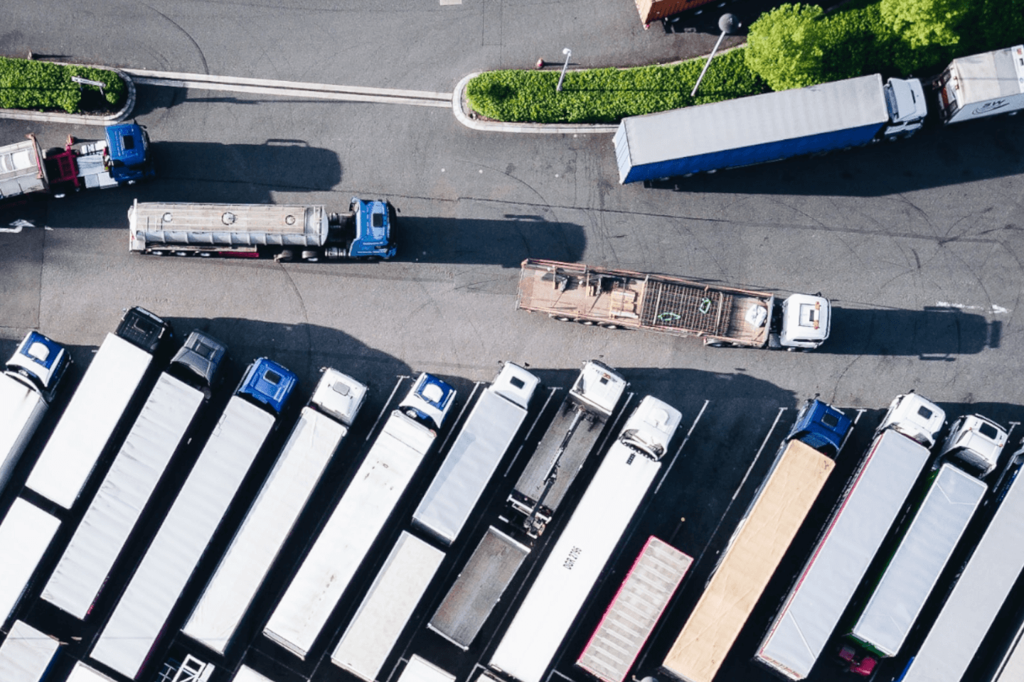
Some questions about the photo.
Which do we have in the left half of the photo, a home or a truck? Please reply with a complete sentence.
You can see a truck in the left half of the photo.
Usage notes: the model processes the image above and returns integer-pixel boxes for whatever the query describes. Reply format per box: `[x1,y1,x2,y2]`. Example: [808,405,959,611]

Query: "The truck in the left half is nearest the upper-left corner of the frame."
[0,120,160,198]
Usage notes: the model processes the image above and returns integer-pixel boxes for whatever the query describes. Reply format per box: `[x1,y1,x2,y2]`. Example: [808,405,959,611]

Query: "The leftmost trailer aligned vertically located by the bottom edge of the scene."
[0,499,73,651]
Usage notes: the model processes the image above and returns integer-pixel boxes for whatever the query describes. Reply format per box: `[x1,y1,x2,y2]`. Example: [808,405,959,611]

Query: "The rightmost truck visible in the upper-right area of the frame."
[925,45,1024,126]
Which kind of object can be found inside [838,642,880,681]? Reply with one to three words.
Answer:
work vehicle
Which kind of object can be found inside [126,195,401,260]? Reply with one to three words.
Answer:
truck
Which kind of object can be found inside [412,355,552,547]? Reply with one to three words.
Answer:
truck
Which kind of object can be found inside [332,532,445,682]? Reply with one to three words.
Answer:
trailer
